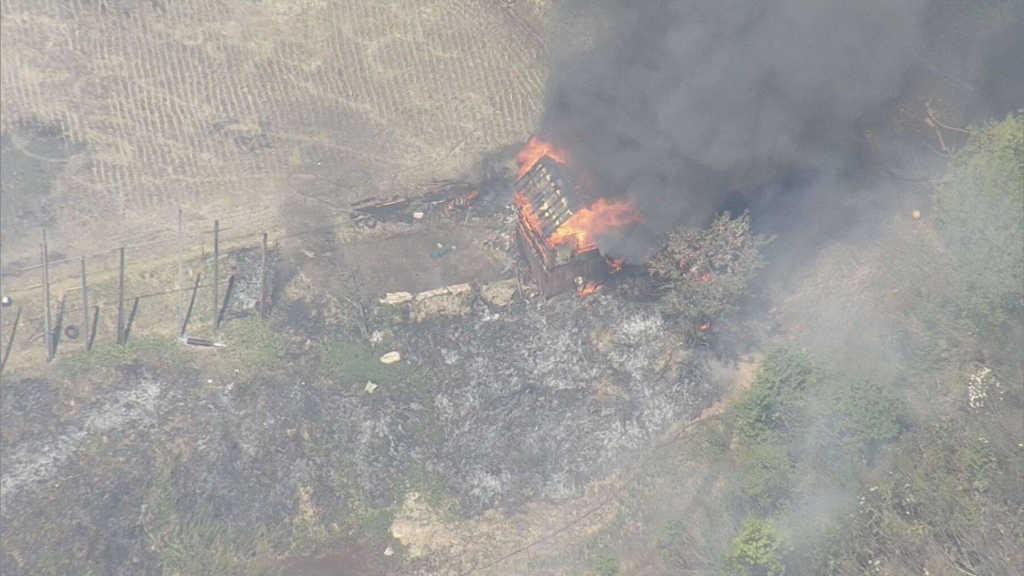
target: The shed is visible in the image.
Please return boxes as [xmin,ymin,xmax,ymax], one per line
[511,153,606,300]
